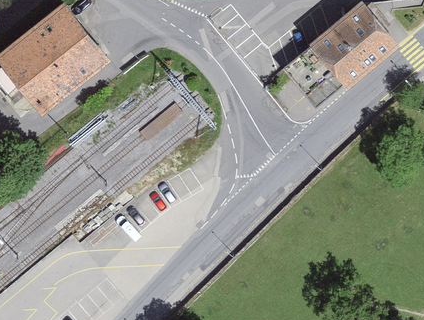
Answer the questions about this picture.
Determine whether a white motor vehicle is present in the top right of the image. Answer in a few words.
No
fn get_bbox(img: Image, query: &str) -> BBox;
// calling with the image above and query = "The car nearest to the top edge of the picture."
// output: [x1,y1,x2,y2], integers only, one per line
[70,0,94,14]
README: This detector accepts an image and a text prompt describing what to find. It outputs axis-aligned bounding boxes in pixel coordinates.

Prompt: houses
[310,0,402,89]
[0,2,111,116]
